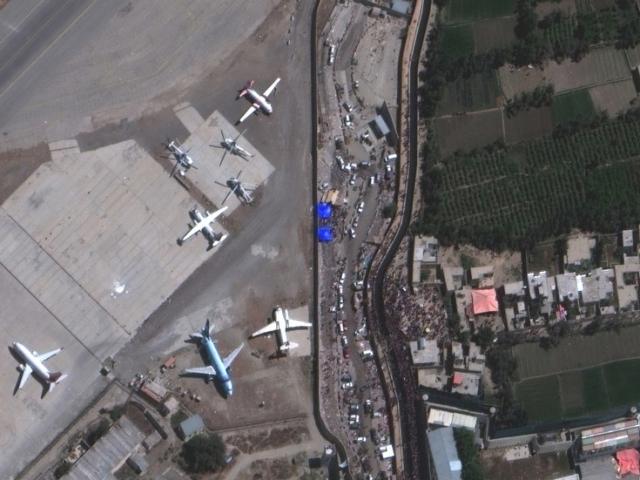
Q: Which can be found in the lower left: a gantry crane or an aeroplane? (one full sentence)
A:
The one visible in the lower left is an aeroplane.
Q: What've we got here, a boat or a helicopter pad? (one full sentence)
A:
It is a helicopter pad that can be seen here.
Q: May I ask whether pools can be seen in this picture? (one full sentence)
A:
No, there appears to be no pool in this shot.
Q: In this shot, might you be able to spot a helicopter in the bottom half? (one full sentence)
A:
No, no helicopter is visible in the bottom half.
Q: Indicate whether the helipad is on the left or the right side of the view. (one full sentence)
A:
The helipad is on the left side of the image.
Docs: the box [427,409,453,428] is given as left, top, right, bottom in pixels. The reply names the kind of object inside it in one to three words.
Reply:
shed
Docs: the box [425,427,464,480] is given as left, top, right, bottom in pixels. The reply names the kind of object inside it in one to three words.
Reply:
building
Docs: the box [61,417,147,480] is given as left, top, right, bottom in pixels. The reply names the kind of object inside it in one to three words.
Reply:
hangar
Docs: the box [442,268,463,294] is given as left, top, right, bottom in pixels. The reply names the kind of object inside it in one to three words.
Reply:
house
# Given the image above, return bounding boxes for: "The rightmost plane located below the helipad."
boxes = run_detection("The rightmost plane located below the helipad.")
[252,308,314,349]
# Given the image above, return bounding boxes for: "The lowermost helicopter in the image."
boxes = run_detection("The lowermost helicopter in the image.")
[218,169,254,202]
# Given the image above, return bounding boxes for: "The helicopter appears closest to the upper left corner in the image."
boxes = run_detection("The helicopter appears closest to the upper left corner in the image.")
[168,138,203,174]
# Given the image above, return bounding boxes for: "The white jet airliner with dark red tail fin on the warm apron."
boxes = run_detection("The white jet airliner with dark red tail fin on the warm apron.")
[13,342,65,389]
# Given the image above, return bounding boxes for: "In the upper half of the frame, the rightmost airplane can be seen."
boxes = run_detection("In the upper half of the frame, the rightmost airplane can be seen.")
[236,79,282,119]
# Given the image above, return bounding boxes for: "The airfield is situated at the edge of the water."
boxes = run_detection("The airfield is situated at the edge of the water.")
[0,0,321,480]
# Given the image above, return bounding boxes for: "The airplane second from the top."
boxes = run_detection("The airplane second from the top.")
[179,209,234,244]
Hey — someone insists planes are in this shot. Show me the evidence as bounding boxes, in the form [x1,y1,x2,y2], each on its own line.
[13,342,65,389]
[179,209,234,244]
[182,325,248,396]
[236,79,282,119]
[252,308,314,349]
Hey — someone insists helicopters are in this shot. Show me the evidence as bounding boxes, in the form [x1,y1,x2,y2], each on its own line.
[218,169,254,202]
[168,138,203,174]
[214,127,256,159]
